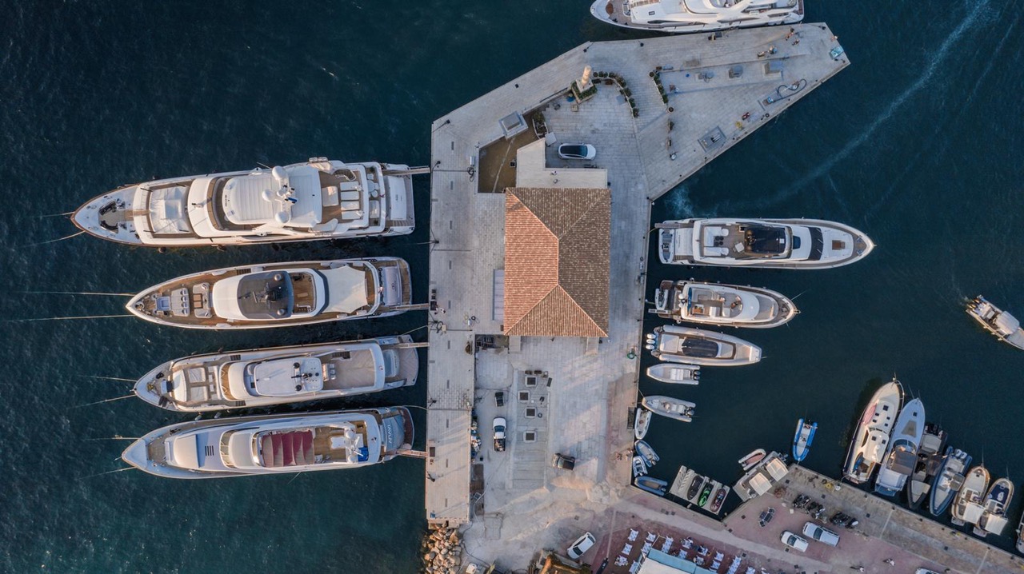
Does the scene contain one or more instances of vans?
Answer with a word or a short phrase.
Yes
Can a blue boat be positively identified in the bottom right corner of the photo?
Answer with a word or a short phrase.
Yes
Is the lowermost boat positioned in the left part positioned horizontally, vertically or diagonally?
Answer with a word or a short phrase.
horizontally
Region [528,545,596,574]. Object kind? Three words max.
shed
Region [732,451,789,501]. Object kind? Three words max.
vessel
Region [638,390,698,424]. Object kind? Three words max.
boat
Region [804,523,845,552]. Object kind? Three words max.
van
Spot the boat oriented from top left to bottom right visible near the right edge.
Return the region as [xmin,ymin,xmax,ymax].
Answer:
[962,295,1024,349]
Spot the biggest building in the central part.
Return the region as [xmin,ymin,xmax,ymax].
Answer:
[503,187,612,353]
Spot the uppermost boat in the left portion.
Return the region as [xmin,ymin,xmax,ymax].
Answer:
[29,157,431,252]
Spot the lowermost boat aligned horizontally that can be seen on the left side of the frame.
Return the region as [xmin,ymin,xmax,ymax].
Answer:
[92,405,428,483]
